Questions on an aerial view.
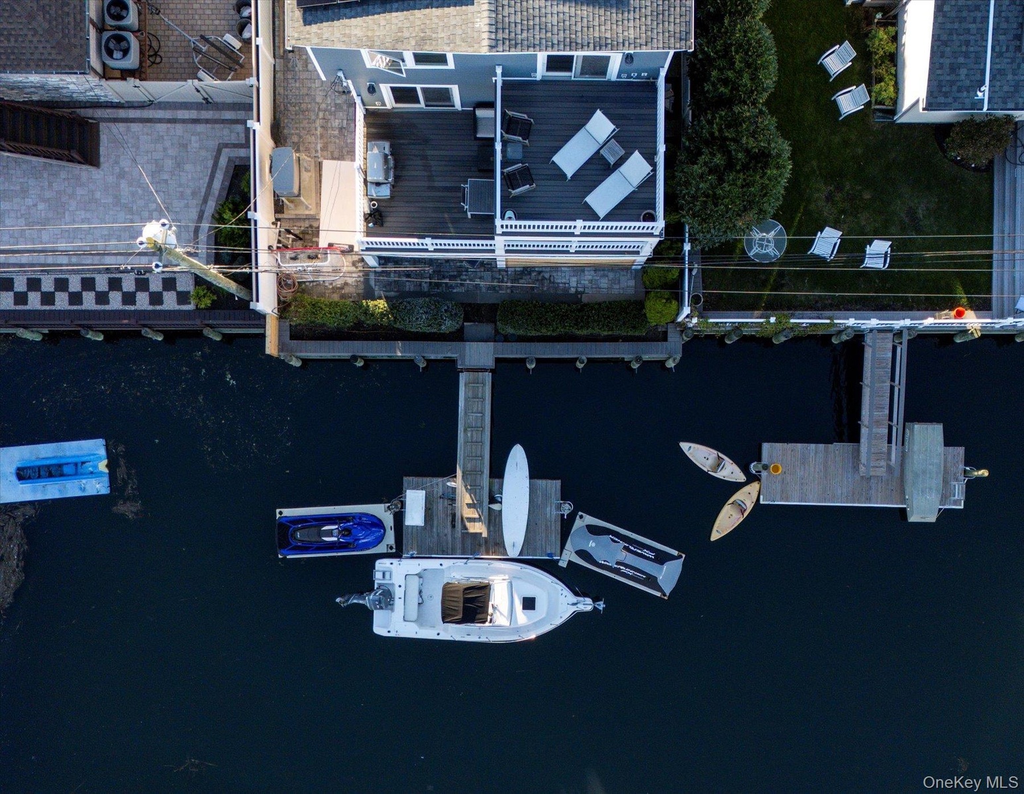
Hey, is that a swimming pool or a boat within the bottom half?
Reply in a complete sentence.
What appears within the bottom half is a boat.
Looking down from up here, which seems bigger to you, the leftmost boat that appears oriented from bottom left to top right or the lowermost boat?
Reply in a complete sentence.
The lowermost boat covers a greater area than the leftmost boat that appears oriented from bottom left to top right.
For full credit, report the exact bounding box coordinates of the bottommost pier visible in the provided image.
[389,477,572,557]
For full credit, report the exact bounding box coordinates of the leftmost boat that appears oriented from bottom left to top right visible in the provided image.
[710,482,760,541]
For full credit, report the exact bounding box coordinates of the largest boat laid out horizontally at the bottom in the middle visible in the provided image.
[337,558,605,643]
